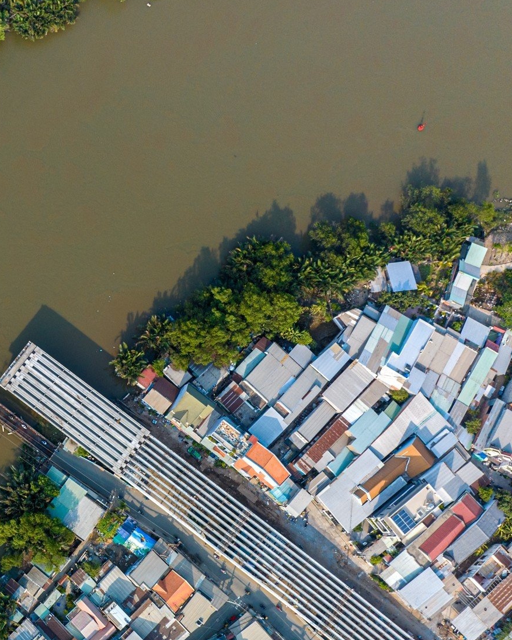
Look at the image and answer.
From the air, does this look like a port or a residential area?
residential area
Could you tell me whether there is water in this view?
Yes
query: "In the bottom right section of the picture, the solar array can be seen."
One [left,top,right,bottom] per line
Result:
[393,508,415,533]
